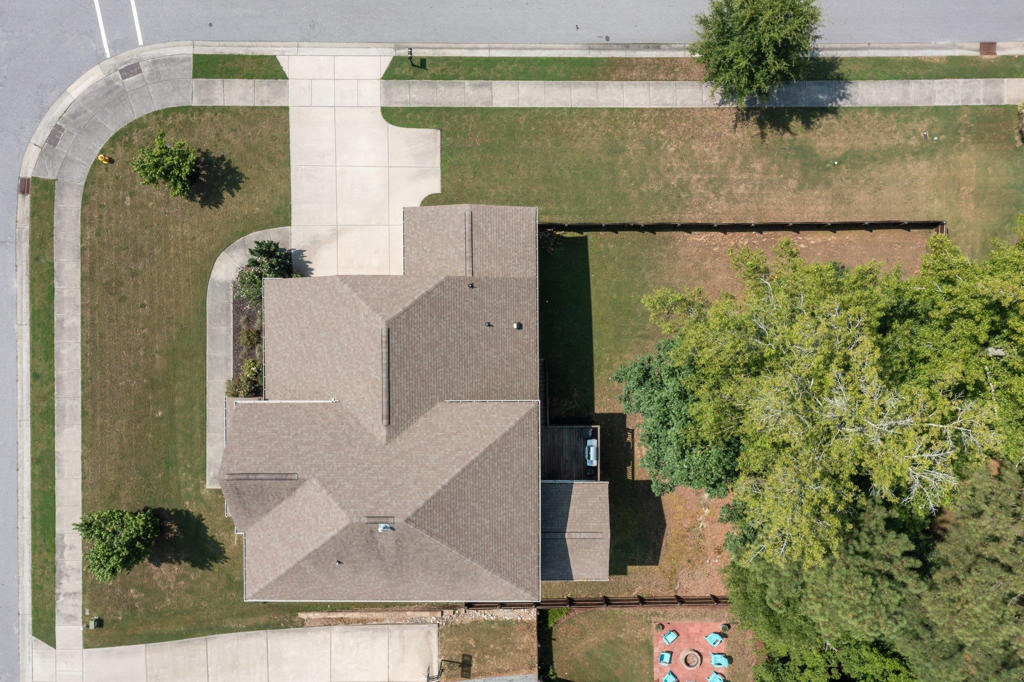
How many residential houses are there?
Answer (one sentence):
Only 1 residential house is visible.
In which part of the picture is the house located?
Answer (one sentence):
You can find the house in the center area of the picture.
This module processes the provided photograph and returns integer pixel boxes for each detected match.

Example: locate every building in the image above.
[218,202,610,604]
